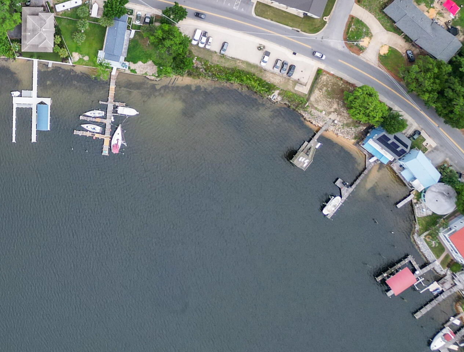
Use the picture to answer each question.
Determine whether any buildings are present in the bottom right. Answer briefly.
Yes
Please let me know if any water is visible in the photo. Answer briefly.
Yes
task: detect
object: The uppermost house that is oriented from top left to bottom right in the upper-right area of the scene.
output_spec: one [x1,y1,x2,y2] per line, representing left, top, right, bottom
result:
[381,0,462,61]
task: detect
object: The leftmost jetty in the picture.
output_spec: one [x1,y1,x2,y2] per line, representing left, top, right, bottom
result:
[11,59,52,142]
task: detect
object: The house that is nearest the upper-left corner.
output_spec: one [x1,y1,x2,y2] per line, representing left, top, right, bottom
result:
[22,8,55,53]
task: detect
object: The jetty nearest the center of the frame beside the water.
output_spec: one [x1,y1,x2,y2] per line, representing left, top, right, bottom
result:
[290,117,335,171]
